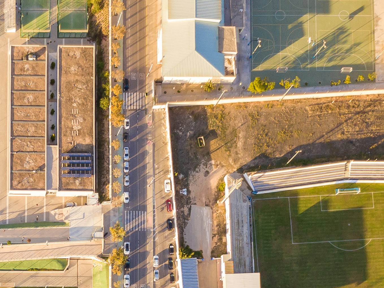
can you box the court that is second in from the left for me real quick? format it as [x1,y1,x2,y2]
[58,0,88,35]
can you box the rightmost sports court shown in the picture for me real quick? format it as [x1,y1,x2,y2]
[249,0,375,88]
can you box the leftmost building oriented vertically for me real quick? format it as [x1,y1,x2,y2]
[9,45,46,195]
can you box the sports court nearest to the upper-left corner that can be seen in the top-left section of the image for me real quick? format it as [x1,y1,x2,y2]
[22,0,51,35]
